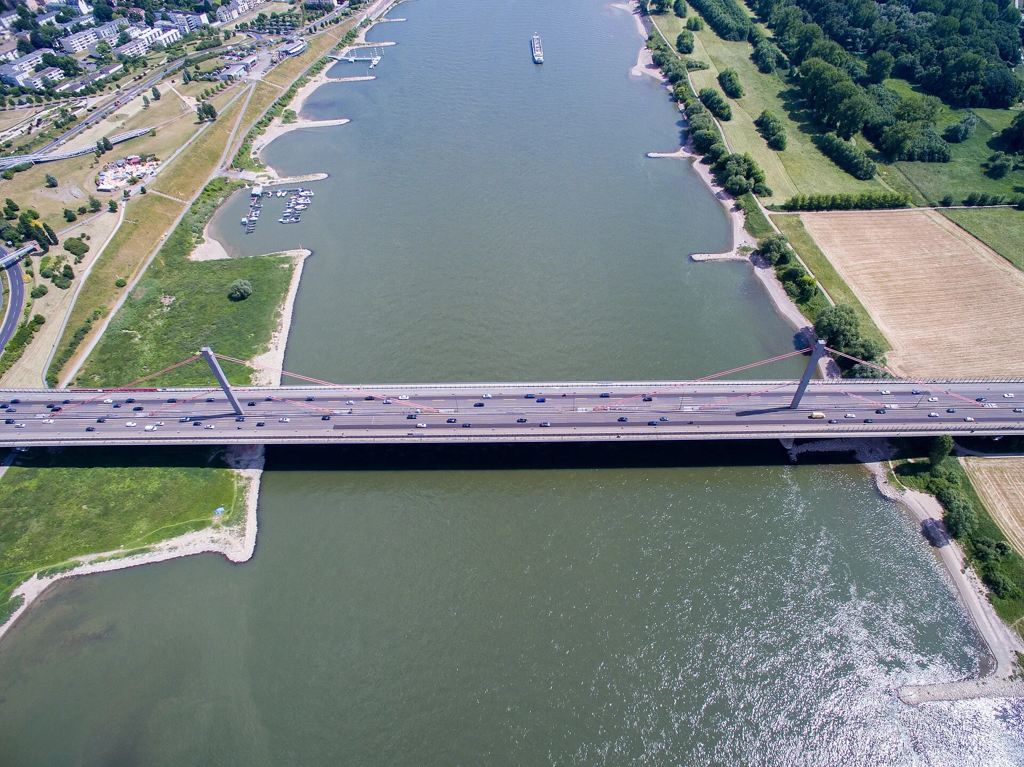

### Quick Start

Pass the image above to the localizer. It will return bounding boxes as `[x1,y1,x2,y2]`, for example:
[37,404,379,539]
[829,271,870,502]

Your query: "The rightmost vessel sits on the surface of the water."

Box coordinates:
[530,31,544,64]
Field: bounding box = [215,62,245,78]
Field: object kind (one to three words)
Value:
building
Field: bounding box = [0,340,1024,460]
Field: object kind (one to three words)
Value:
bridge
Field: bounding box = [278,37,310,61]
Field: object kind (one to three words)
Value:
building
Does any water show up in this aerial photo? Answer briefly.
Yes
